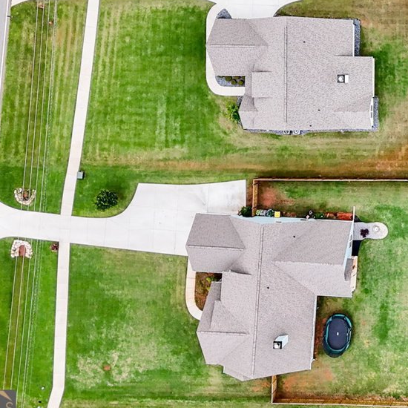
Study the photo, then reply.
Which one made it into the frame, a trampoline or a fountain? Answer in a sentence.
There is a trampoline in the scene.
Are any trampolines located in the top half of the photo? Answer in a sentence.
No, looking in the top half of the photo, there is no trampoline.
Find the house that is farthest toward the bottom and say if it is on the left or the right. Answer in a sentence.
The house that is farthest toward the bottom is on the right side of the image.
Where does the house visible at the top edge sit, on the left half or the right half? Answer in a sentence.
It is on the right.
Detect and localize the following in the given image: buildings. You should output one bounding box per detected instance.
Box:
[185,213,367,385]
[207,17,376,130]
